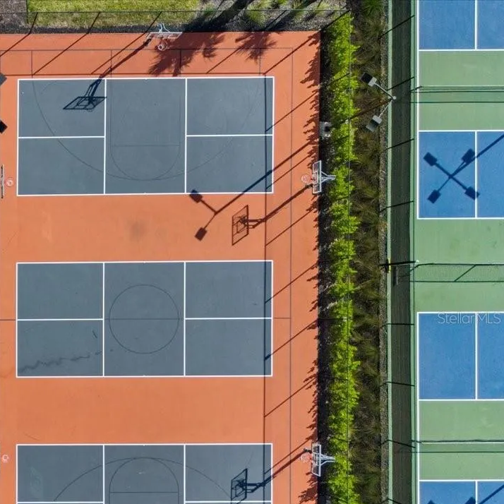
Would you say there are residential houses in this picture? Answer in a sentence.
No, I can't see a single residential house in this photo.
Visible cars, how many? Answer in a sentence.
No cars are visible.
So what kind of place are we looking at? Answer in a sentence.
The area seen from above is a sports ground.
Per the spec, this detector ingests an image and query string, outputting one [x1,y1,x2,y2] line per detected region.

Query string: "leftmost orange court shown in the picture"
[0,31,320,504]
